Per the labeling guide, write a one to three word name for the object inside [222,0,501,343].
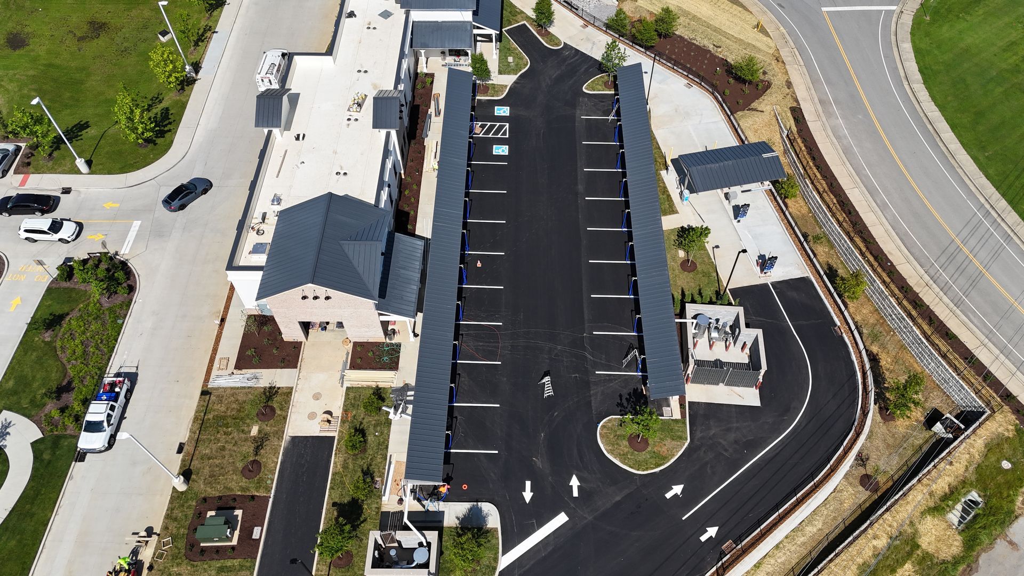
building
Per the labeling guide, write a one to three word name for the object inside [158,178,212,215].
car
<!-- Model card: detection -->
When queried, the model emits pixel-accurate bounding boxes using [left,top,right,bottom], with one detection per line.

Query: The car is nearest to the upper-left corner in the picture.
[0,144,21,182]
